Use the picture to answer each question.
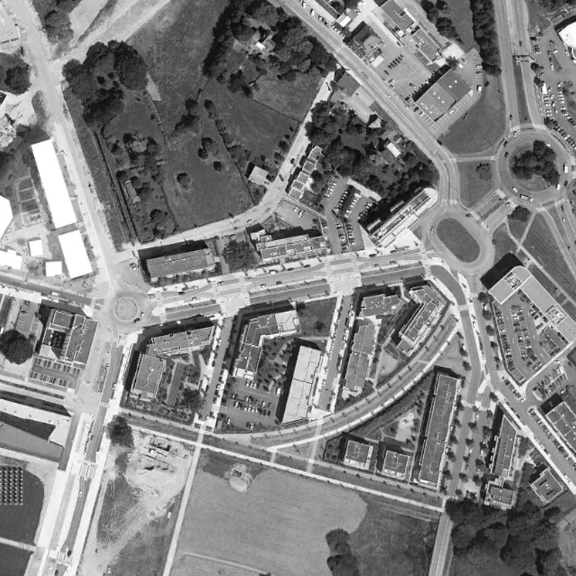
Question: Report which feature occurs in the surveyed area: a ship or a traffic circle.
traffic circle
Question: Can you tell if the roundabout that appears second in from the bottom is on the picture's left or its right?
right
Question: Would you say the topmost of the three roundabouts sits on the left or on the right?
right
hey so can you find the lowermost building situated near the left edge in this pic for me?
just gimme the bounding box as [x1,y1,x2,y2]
[0,399,71,446]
